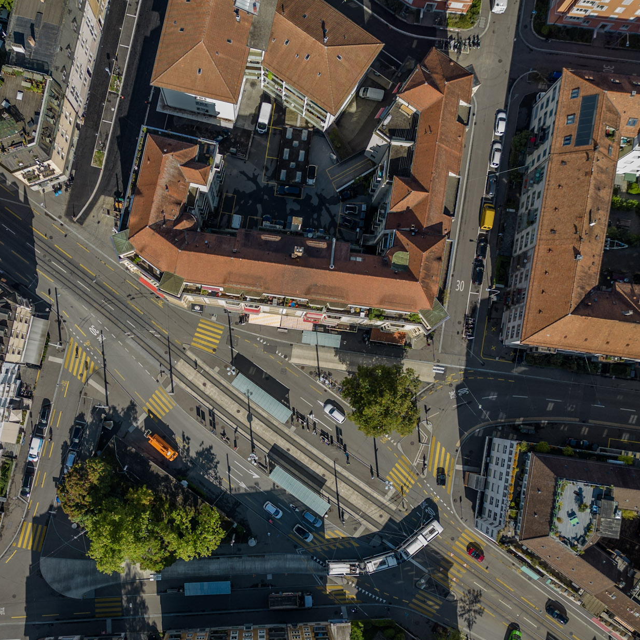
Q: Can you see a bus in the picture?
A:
Yes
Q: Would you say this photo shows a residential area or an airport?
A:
residential area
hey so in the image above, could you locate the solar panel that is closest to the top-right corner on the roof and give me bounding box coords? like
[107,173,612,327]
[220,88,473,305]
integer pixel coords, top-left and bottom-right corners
[574,94,599,146]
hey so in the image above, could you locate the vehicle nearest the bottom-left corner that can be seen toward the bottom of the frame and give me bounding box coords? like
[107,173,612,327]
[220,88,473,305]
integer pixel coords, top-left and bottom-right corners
[21,476,33,496]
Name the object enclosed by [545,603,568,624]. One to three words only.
car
